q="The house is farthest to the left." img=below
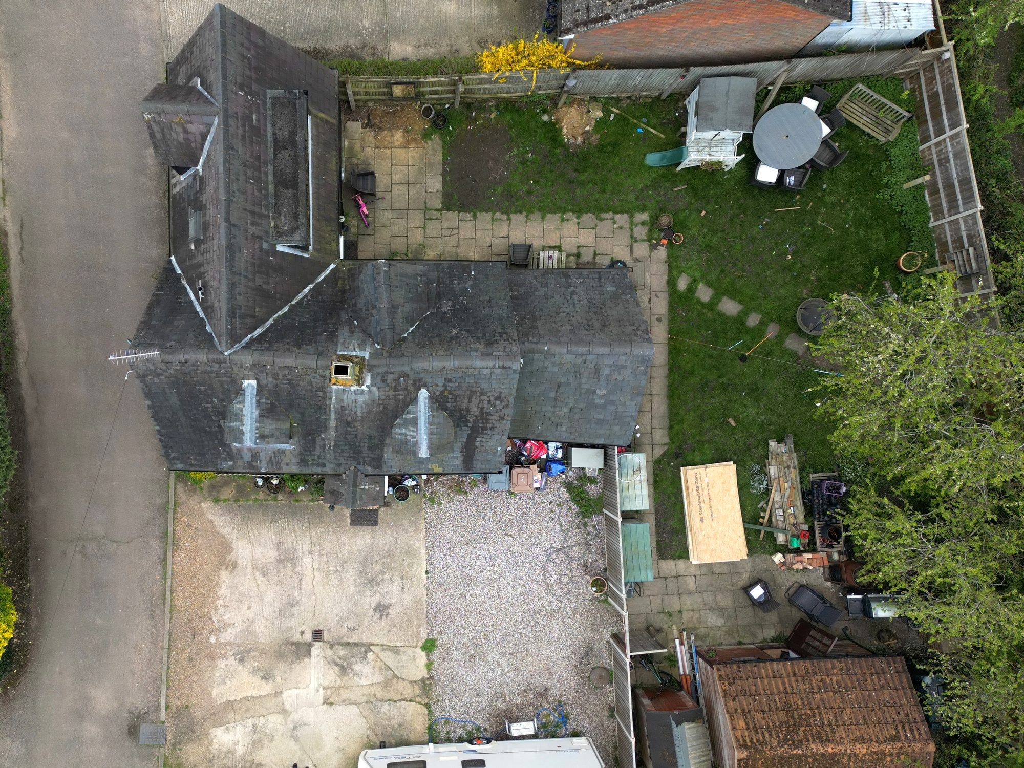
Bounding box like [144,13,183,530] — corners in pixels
[128,4,654,510]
